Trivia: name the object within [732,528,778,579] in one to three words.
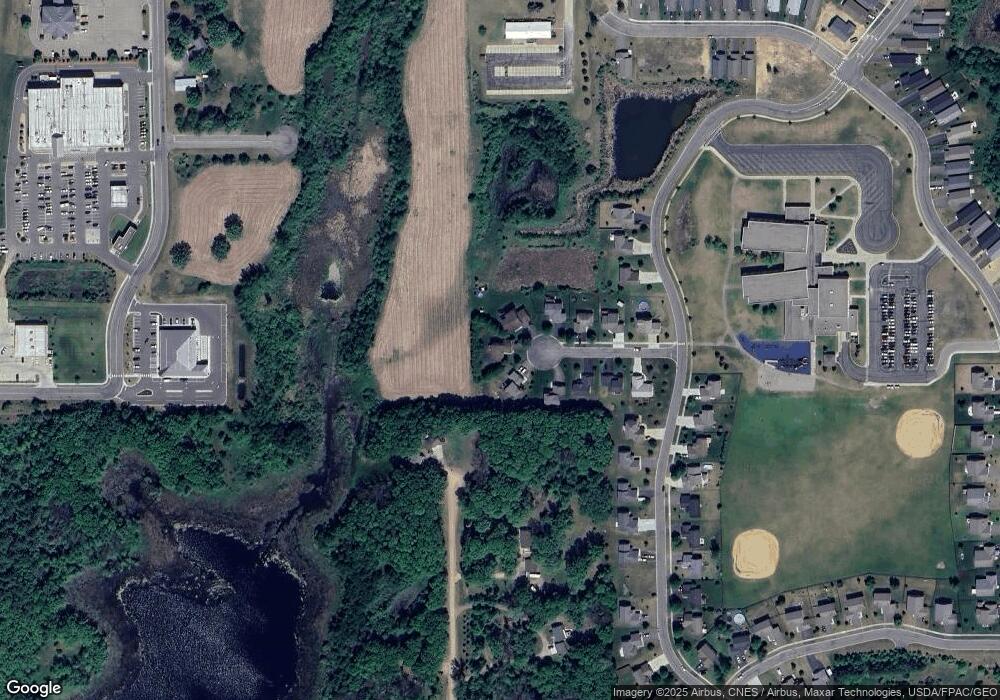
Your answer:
baseball field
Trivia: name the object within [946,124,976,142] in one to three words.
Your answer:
house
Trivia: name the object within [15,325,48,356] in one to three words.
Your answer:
building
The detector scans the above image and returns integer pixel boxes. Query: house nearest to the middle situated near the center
[487,343,513,361]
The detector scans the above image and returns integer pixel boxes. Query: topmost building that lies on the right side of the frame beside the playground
[742,207,858,341]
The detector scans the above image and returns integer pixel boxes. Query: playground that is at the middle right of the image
[737,332,815,391]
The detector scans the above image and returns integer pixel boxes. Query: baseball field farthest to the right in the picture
[896,408,943,458]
